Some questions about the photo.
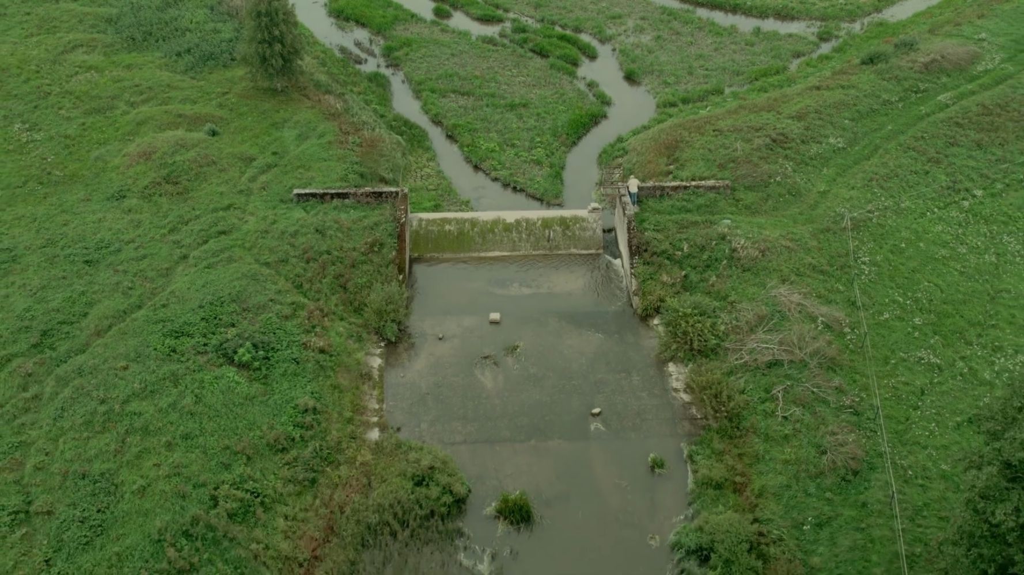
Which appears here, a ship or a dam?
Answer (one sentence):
The image shows a dam.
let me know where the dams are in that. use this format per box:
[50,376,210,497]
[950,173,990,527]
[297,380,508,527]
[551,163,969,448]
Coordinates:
[409,209,604,262]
